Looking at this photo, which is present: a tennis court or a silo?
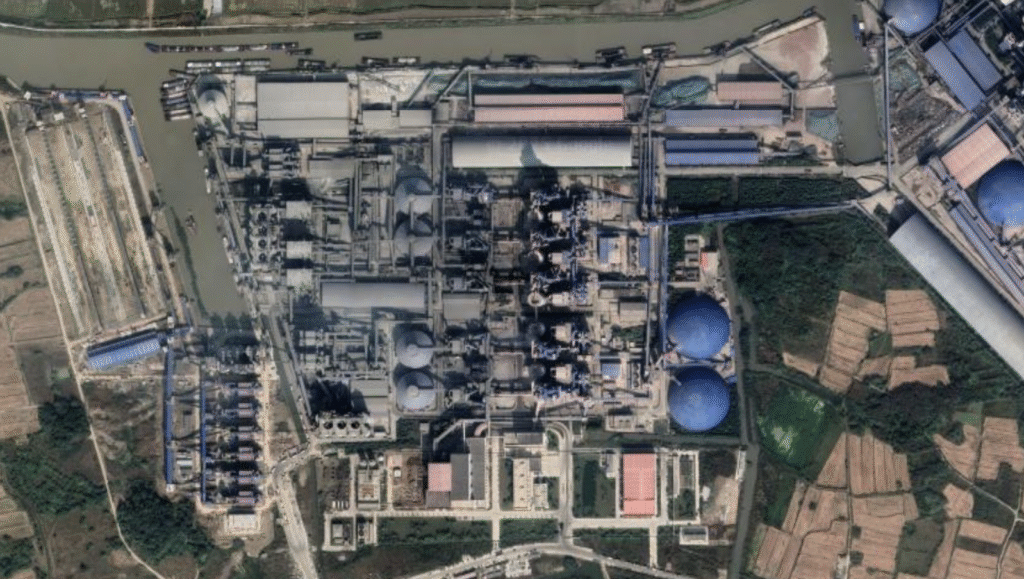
silo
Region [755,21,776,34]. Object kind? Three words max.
ship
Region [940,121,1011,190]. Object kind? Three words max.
building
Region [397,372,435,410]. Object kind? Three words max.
silo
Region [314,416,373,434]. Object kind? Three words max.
cooling tower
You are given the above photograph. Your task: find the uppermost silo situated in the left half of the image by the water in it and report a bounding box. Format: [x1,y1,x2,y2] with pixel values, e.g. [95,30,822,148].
[199,85,229,115]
